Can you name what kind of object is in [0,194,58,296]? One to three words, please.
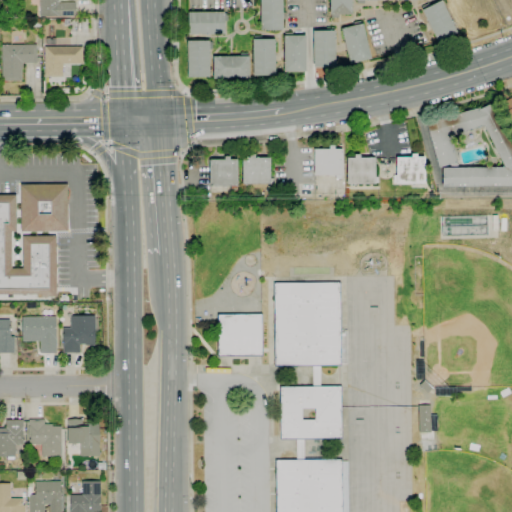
building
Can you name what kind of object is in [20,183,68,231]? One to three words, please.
building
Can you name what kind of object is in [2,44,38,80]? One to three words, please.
house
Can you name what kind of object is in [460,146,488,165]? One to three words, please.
swimming pool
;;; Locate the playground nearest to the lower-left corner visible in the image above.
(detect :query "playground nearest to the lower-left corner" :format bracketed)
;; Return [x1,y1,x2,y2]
[194,249,262,318]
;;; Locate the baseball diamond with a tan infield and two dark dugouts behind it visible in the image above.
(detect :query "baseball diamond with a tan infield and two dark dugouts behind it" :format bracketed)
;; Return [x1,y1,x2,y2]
[424,245,512,386]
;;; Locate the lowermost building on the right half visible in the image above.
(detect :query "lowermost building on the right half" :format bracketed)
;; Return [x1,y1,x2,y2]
[276,460,343,512]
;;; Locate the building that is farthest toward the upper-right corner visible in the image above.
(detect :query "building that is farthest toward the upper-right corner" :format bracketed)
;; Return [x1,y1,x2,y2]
[424,0,458,38]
